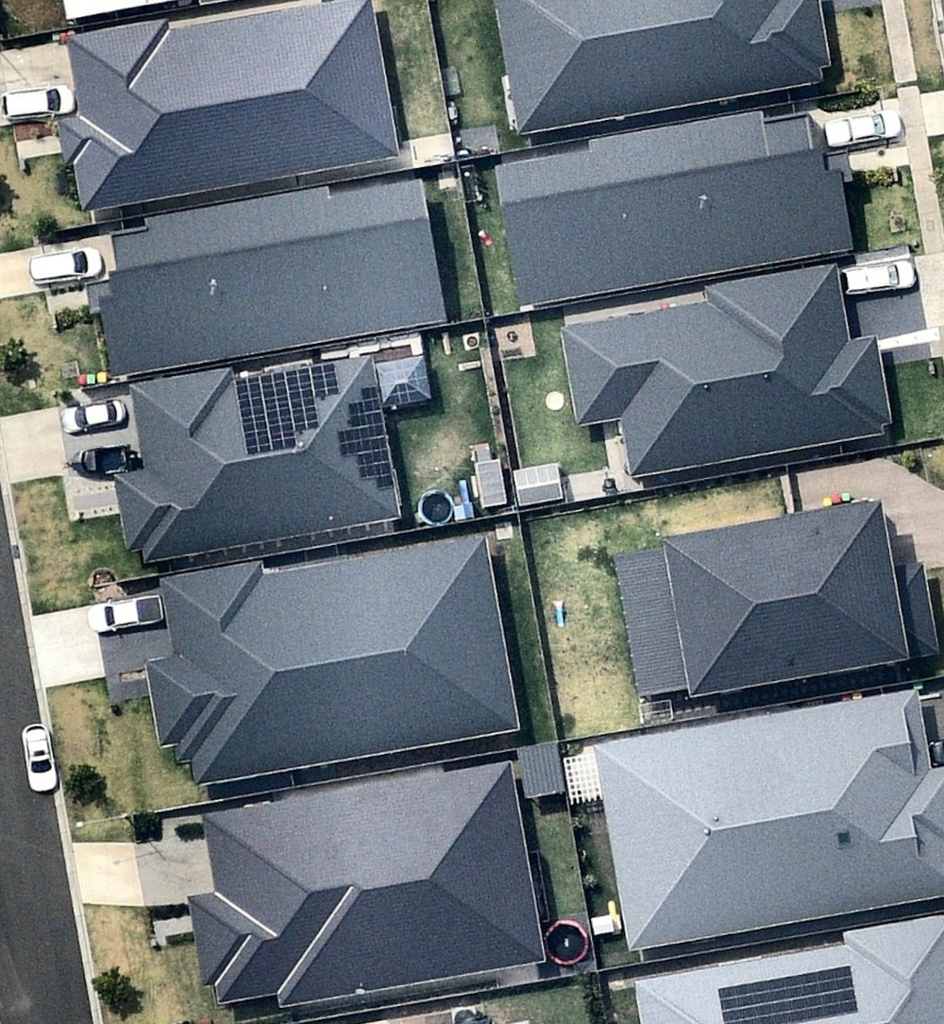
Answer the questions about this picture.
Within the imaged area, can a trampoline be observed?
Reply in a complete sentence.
Yes, the image includes a trampoline.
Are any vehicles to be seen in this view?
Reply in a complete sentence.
Yes, a vehicle is visible in the scene.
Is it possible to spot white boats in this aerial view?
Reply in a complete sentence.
No, no white boat is visible in the scene.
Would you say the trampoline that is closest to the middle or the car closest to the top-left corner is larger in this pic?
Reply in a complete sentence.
The car takes up more space than the trampoline.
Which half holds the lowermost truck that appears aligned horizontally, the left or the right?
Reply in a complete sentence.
You can find the lowermost truck that appears aligned horizontally on the left side of the picture.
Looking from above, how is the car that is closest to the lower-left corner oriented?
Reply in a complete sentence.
In this picture, the car that is closest to the lower-left corner is oriented from top to bottom.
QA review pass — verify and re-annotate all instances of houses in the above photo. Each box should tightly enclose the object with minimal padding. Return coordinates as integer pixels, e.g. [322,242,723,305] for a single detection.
[63,0,177,19]
[113,355,401,561]
[635,915,944,1024]
[612,500,941,699]
[594,690,944,953]
[144,534,521,787]
[186,761,546,1010]
[86,178,446,377]
[56,0,398,209]
[496,111,854,309]
[562,262,894,478]
[496,0,832,135]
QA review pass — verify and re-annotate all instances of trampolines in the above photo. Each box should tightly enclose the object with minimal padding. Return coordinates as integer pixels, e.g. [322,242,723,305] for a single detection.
[546,920,590,966]
[418,489,453,526]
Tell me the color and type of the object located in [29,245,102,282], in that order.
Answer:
white car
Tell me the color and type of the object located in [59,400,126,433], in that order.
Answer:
white car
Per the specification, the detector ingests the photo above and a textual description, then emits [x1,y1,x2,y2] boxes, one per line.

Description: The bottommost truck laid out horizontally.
[87,596,164,633]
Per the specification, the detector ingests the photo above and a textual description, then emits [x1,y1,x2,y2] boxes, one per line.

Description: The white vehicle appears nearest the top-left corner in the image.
[1,84,74,119]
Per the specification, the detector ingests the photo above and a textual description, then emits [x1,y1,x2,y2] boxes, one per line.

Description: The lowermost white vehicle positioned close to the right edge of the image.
[843,257,918,294]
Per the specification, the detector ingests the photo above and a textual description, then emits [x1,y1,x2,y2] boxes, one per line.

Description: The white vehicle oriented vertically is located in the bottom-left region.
[22,724,57,793]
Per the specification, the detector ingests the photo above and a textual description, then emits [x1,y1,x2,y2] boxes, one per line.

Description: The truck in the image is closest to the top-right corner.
[825,108,903,147]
